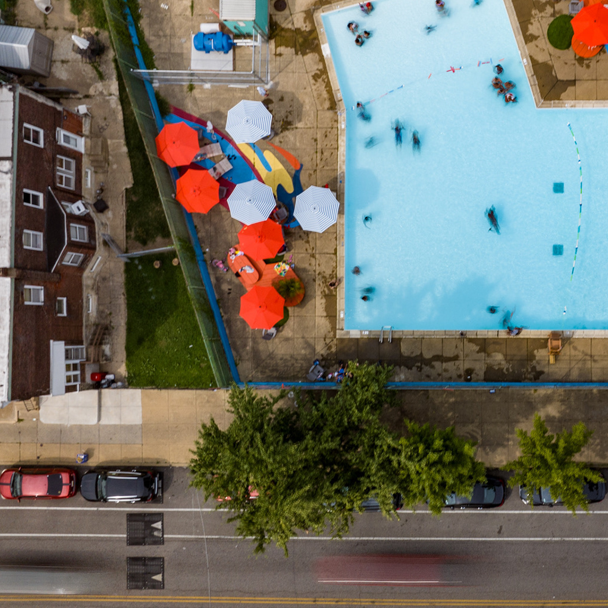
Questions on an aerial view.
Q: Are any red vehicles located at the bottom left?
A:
Yes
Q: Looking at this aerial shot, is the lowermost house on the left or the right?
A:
left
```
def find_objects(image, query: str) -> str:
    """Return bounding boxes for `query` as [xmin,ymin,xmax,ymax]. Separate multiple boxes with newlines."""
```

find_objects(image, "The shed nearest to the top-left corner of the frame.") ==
[0,29,54,78]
